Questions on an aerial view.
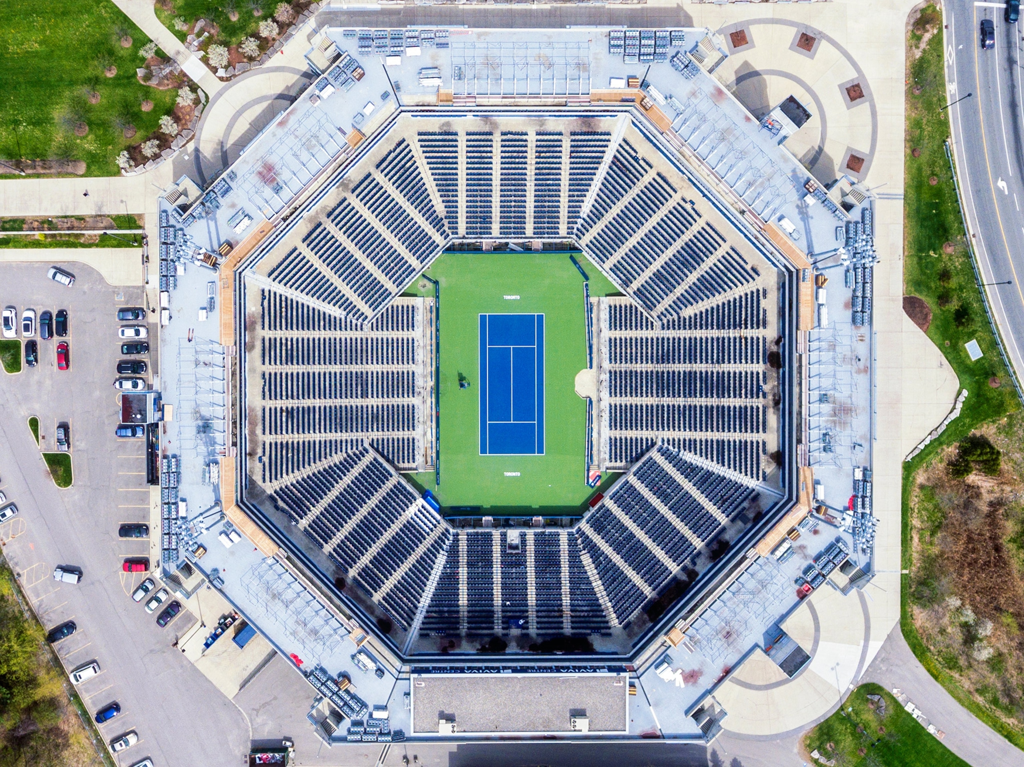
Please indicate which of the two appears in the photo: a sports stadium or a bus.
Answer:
sports stadium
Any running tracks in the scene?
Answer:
No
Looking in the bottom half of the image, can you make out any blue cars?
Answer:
Yes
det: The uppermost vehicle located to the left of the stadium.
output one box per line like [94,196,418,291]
[46,267,78,286]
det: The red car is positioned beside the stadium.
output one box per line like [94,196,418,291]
[122,559,151,574]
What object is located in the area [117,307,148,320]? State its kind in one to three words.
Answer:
vehicle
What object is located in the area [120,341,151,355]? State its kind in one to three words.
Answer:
car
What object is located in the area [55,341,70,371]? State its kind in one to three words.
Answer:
car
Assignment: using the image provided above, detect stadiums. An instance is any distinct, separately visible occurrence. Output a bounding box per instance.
[155,24,872,746]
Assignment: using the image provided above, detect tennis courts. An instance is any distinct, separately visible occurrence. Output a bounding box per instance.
[398,240,629,528]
